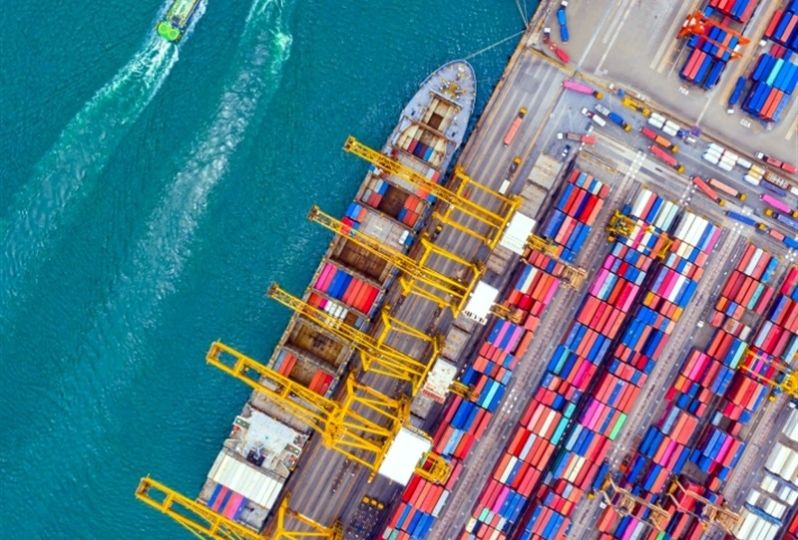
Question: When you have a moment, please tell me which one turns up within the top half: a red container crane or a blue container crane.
red container crane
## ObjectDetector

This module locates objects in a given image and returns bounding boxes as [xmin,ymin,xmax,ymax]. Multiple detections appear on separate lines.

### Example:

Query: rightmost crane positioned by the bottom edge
[664,475,745,536]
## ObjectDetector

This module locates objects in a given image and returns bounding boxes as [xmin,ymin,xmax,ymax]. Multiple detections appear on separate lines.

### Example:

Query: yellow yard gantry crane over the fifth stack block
[728,346,798,397]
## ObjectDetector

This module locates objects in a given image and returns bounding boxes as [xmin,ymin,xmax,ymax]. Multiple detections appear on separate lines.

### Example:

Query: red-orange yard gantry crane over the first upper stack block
[666,8,756,69]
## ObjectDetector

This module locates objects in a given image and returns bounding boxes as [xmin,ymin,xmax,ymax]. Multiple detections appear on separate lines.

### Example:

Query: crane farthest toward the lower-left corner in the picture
[142,482,345,540]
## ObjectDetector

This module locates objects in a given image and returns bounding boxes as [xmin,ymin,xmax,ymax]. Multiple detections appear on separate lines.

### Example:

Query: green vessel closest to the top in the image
[158,0,204,42]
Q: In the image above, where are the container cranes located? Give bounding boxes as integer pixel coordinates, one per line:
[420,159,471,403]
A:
[515,241,590,292]
[209,345,453,486]
[344,131,566,258]
[271,285,486,404]
[598,204,679,258]
[600,474,677,534]
[310,205,528,328]
[664,475,745,536]
[728,346,798,397]
[666,8,756,69]
[142,482,345,540]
